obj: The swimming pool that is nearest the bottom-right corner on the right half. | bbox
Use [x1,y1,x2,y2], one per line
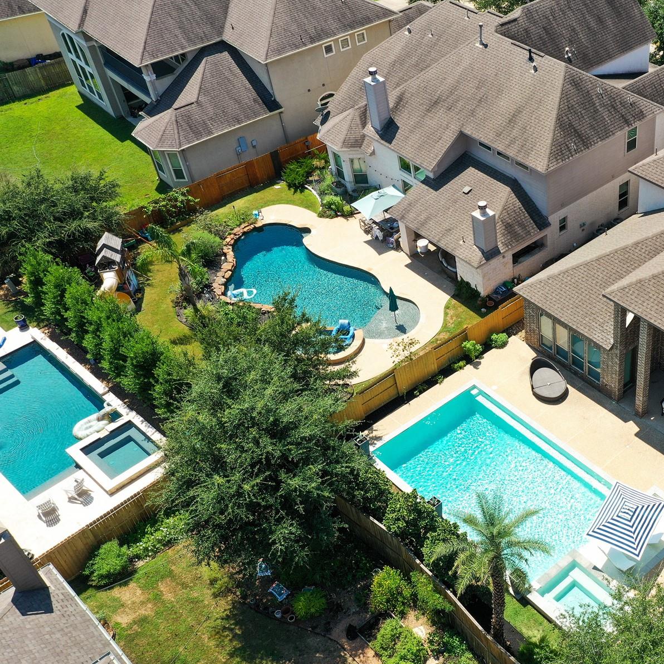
[362,378,664,645]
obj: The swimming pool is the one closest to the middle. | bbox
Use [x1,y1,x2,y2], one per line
[226,219,424,357]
